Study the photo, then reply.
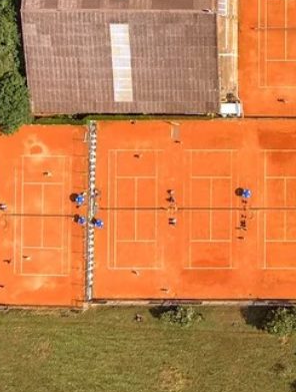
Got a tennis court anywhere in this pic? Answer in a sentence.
Yes, there's a tennis court down there.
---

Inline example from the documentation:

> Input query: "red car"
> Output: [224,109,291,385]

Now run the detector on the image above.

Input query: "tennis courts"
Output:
[95,120,174,299]
[174,117,248,299]
[238,0,296,117]
[5,124,86,307]
[248,117,296,299]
